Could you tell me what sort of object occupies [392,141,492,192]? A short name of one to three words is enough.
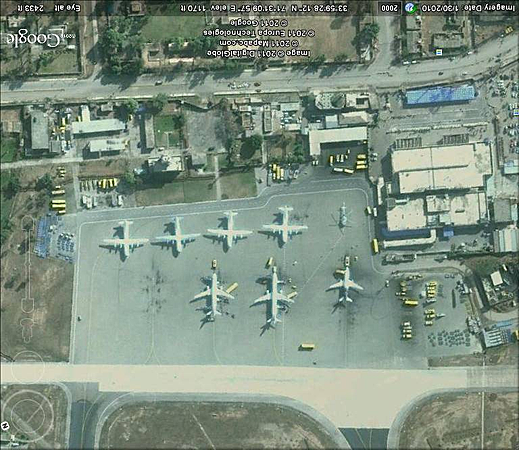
building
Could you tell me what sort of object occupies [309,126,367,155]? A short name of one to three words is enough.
hangar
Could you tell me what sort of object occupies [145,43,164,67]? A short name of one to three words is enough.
house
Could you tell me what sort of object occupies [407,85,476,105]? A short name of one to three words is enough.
shed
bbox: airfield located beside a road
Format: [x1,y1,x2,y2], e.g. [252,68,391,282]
[0,179,519,450]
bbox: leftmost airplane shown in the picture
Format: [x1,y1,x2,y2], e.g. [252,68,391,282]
[103,219,149,256]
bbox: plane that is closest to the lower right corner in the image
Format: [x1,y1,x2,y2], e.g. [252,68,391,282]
[328,268,366,304]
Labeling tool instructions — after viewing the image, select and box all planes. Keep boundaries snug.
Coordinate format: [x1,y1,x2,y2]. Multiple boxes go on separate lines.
[207,210,253,247]
[328,268,366,304]
[263,206,309,242]
[252,267,299,323]
[195,273,236,316]
[156,215,201,251]
[103,219,149,256]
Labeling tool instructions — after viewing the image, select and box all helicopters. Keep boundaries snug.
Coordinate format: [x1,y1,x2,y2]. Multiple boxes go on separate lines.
[332,205,356,233]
